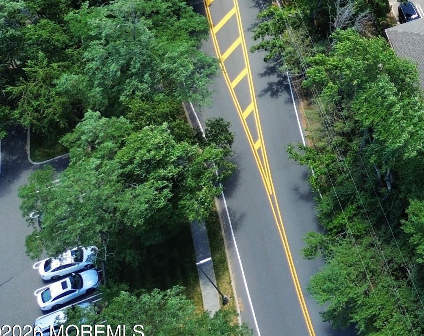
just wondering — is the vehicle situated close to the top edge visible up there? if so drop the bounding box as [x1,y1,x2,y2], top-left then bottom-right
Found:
[399,5,419,23]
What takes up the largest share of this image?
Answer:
trees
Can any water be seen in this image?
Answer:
No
